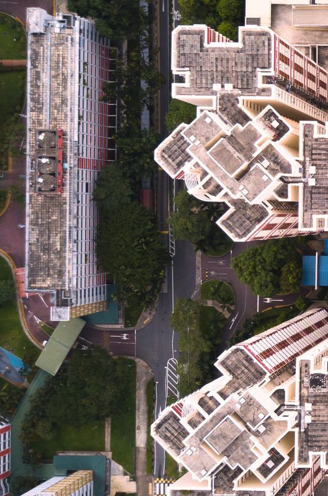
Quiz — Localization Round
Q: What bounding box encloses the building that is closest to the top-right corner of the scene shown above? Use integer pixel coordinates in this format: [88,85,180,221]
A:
[154,25,328,241]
